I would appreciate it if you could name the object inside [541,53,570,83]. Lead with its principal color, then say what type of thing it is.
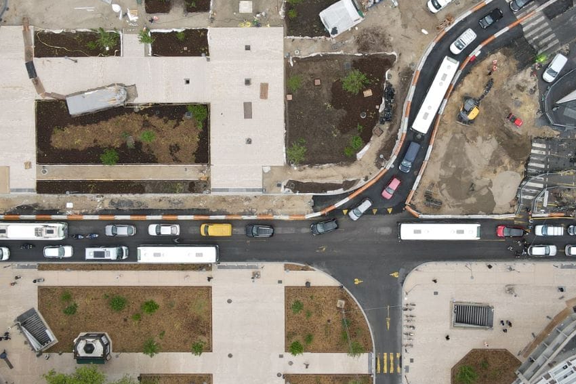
white van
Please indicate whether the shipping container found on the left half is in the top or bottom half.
top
